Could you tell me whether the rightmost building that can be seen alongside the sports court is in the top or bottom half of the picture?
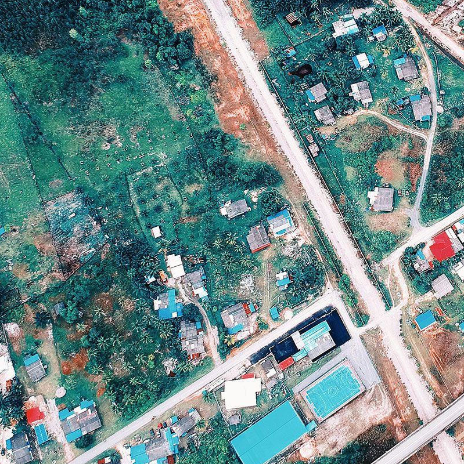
bottom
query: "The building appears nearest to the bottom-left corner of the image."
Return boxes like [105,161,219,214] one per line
[5,432,35,464]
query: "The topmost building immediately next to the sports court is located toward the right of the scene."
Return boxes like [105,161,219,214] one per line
[290,320,336,359]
